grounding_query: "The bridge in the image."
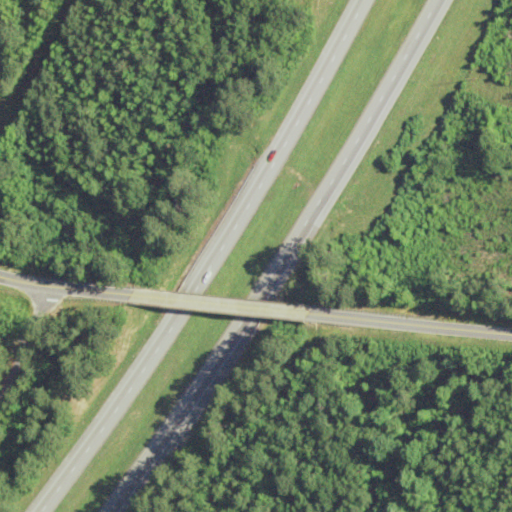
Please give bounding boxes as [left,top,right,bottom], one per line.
[125,286,312,324]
